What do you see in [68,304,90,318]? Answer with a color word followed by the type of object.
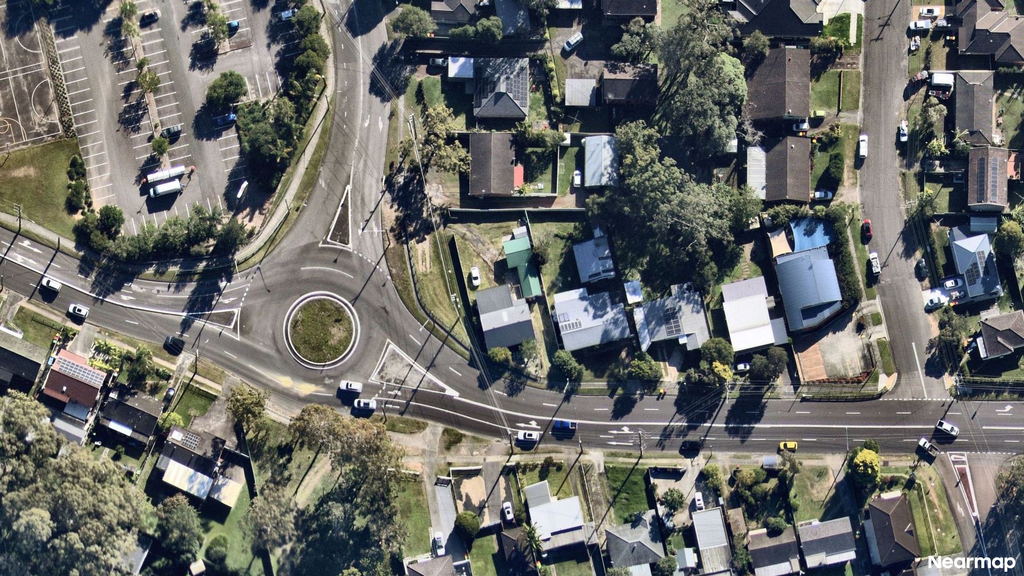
white car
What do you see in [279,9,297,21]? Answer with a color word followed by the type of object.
blue vehicle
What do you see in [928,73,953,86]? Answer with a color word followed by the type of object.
white vehicle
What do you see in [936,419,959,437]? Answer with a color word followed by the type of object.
white vehicle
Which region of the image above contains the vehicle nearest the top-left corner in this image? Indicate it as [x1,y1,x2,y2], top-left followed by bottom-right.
[140,12,162,24]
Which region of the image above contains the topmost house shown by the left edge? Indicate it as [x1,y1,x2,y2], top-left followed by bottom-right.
[0,322,48,386]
